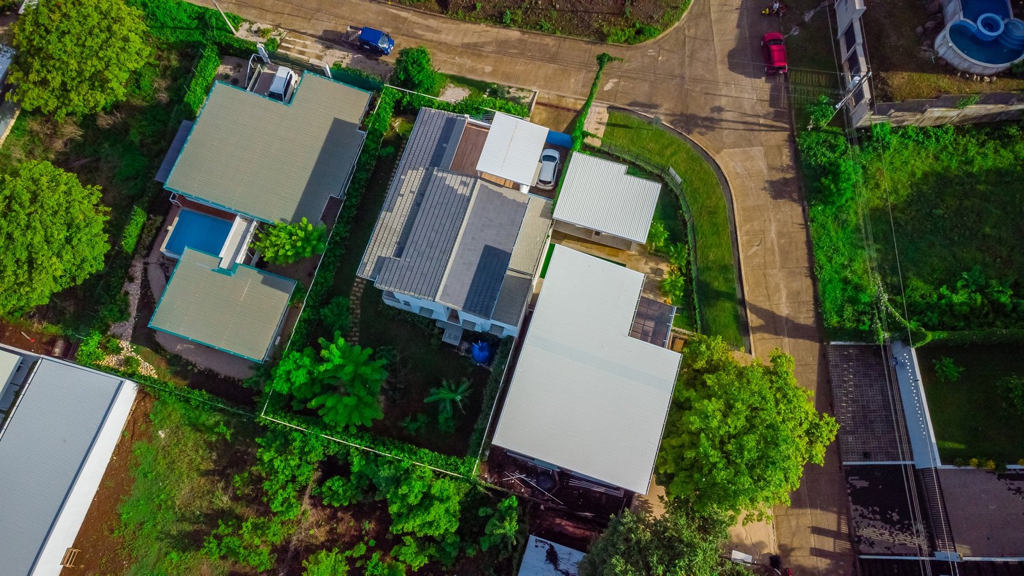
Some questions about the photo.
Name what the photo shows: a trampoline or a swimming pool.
swimming pool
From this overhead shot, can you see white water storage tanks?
No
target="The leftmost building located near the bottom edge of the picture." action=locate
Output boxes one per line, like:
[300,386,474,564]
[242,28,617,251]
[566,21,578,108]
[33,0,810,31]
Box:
[0,351,148,576]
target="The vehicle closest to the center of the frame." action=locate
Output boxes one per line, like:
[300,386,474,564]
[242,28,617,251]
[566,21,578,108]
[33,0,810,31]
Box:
[536,146,561,191]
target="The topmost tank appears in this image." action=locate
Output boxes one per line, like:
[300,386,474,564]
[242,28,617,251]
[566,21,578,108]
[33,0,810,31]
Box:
[469,339,493,364]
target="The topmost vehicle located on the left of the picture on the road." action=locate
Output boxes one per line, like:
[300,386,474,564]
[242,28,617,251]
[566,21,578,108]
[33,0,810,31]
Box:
[339,21,396,57]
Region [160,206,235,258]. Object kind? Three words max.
swimming pool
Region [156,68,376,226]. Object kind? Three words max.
house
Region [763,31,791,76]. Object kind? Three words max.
car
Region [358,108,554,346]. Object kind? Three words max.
house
